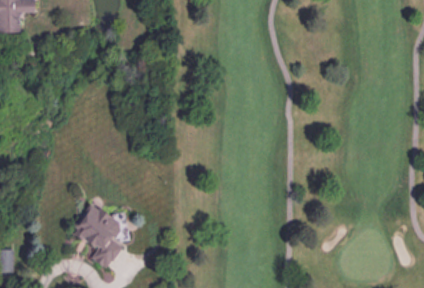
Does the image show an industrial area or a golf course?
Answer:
golf course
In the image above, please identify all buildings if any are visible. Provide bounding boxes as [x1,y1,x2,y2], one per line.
[79,205,122,268]
[0,0,35,34]
[0,250,14,273]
